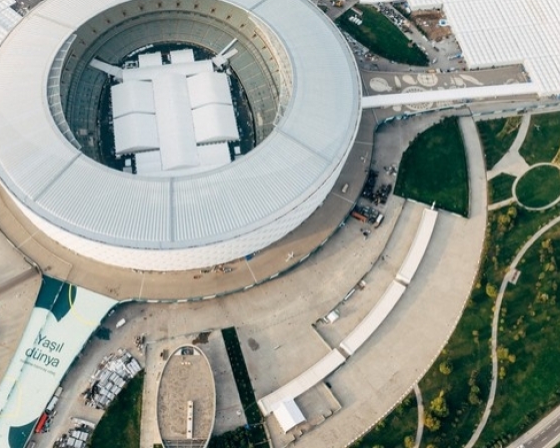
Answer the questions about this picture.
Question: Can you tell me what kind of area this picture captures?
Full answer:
What you see here is a sports ground.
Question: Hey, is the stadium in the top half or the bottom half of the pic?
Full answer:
The top half of the photo is where the stadium is.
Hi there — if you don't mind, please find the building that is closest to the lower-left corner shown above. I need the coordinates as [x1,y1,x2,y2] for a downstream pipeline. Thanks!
[155,343,218,448]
